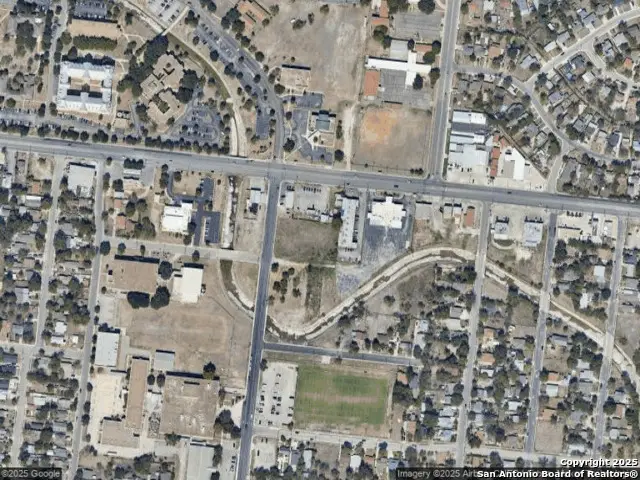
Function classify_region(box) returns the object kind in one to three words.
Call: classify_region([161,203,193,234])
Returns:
building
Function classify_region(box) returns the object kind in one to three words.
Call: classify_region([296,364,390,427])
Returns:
sports field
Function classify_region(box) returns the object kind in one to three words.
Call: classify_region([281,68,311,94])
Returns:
building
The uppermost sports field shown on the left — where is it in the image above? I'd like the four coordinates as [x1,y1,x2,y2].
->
[164,304,231,356]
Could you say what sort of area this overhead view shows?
residential area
